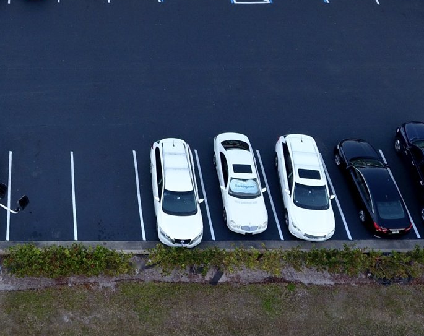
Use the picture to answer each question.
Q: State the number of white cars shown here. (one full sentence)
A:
The number of white cars here is 3.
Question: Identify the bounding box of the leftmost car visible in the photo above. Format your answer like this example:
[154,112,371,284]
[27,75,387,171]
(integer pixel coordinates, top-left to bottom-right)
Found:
[150,140,209,245]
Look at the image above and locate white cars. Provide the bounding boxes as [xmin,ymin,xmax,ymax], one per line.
[214,137,274,234]
[276,136,341,237]
[150,140,209,245]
